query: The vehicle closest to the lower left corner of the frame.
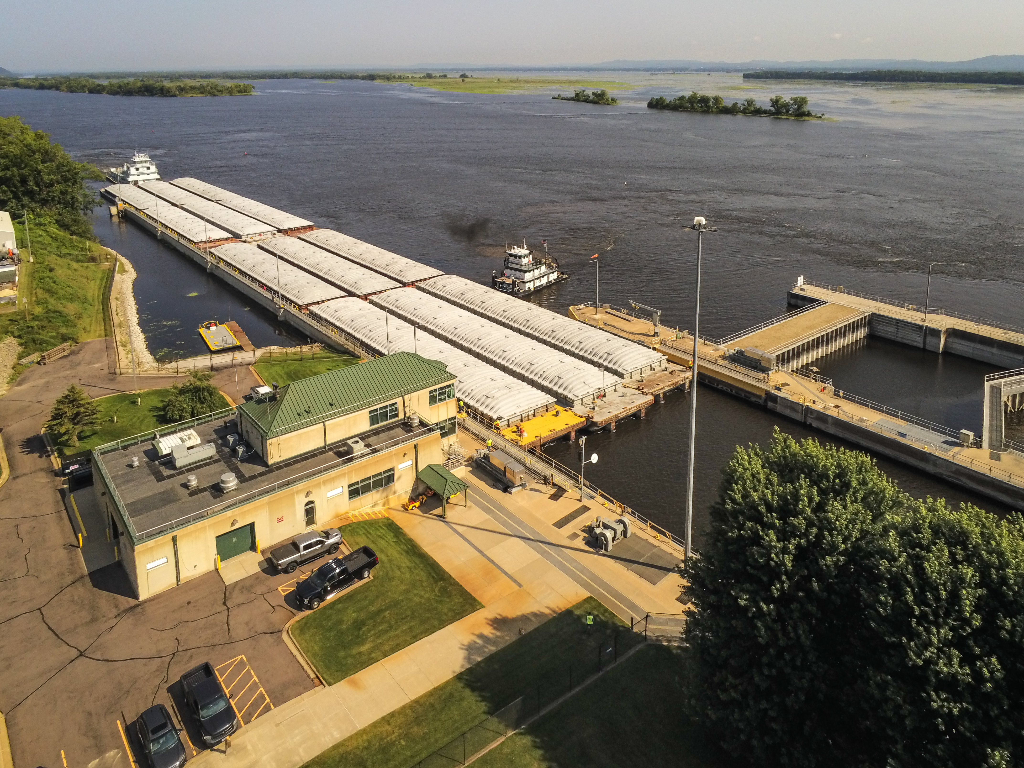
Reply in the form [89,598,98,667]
[131,692,182,768]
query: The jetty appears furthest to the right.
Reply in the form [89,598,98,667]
[230,312,259,352]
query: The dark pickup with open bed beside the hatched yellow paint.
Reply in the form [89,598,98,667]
[174,650,237,737]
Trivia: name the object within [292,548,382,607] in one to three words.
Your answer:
truck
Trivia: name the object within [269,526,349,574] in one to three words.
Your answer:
truck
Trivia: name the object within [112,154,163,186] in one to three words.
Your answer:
boat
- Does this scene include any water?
Yes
